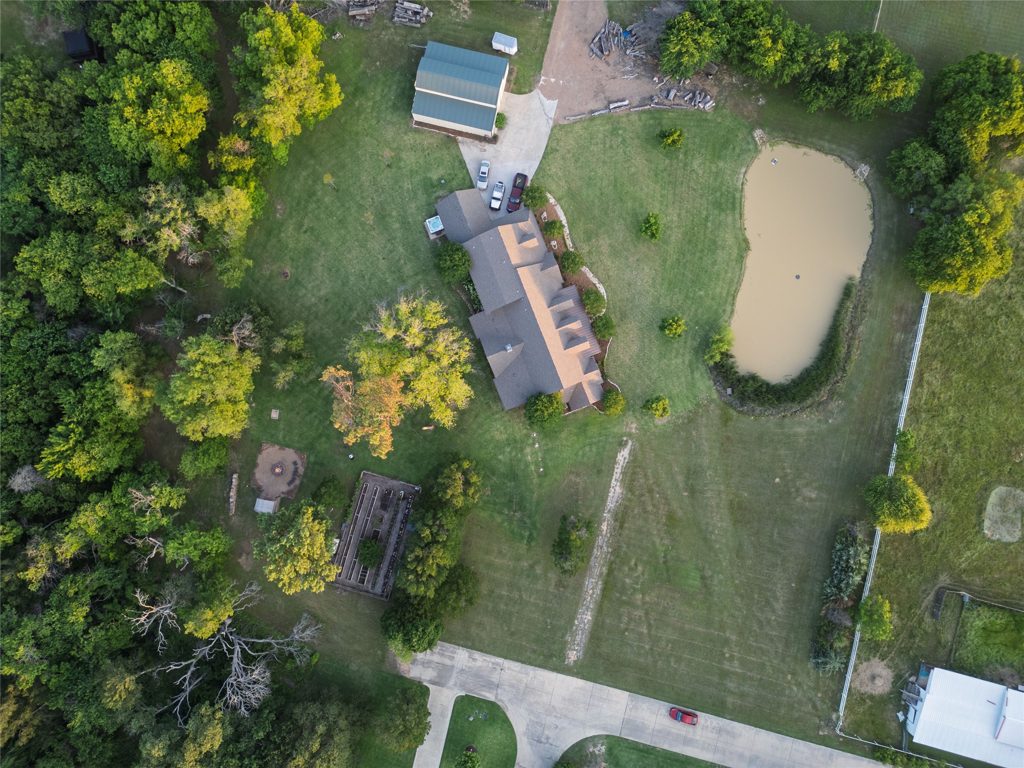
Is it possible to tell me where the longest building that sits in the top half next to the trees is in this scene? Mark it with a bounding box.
[435,188,604,410]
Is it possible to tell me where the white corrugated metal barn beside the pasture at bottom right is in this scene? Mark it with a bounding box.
[904,667,1024,768]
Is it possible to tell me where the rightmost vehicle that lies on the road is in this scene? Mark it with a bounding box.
[670,707,698,726]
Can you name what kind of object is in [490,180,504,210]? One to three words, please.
car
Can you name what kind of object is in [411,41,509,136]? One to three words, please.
barn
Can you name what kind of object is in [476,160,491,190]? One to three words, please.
car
